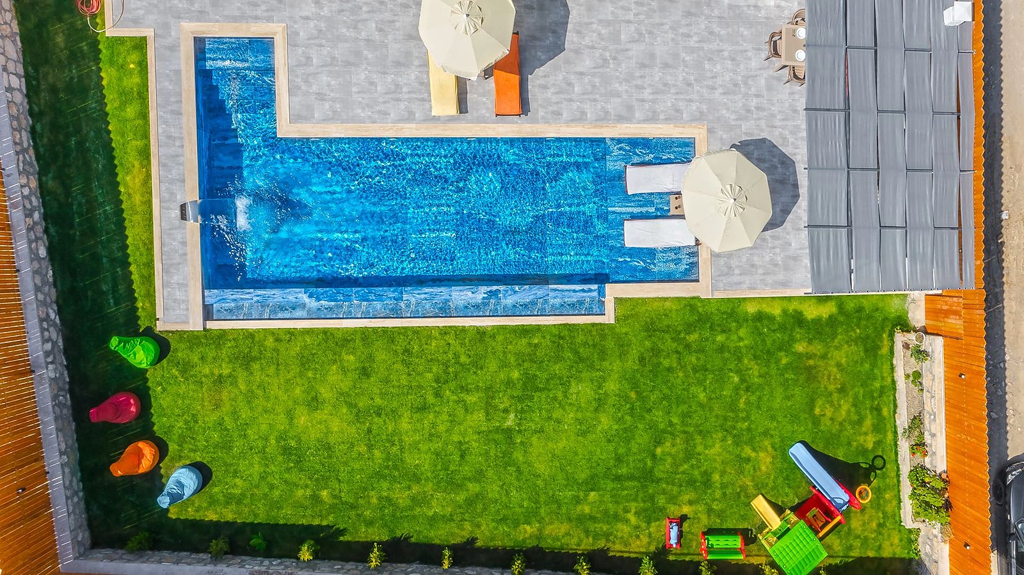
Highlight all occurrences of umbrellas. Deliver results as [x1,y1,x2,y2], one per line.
[419,0,515,77]
[679,152,776,249]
